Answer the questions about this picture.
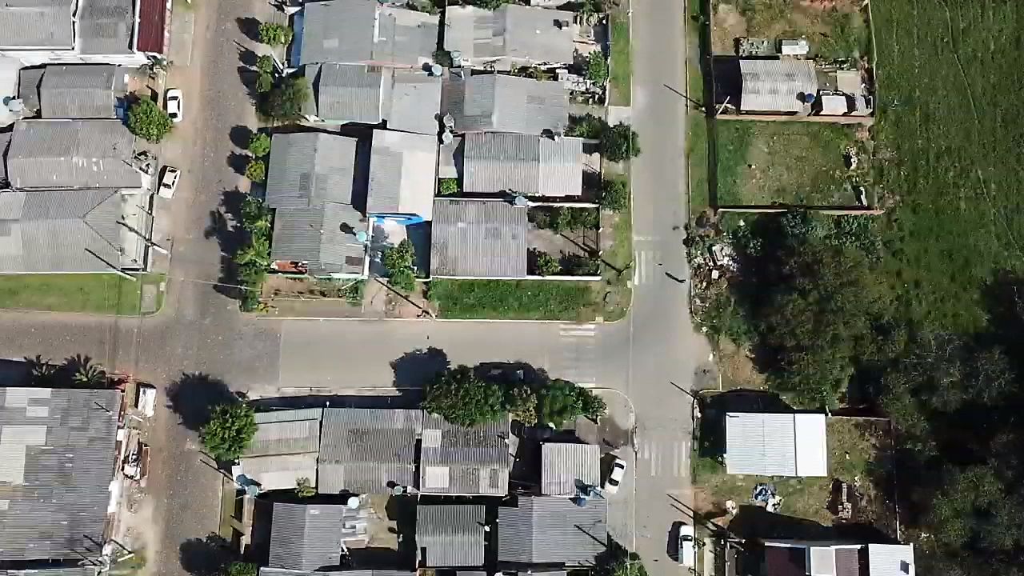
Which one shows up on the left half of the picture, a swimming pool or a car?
car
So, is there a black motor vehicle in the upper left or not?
No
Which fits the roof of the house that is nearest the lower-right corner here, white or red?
white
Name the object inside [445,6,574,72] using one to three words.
house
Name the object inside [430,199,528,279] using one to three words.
house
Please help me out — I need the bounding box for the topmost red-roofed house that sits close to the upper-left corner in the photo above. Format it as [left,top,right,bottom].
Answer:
[136,0,168,60]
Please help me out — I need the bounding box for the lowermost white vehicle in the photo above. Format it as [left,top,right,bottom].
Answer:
[677,524,696,568]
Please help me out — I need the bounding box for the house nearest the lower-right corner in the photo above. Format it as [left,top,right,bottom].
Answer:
[857,542,914,576]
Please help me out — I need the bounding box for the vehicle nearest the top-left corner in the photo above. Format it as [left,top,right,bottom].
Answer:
[165,91,183,122]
